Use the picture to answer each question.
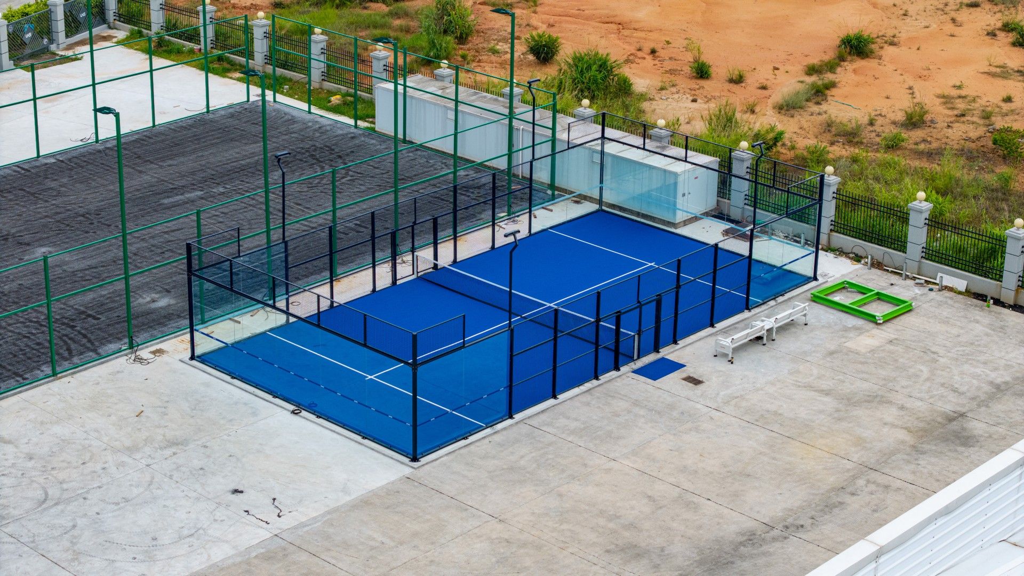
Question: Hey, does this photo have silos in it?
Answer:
No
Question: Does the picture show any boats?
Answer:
No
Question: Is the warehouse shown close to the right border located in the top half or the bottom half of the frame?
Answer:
bottom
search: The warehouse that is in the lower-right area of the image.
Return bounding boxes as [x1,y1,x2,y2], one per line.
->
[803,440,1024,576]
